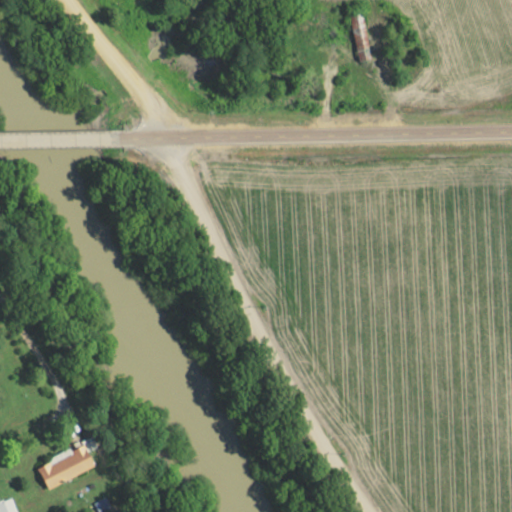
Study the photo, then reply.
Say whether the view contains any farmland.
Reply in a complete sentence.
Yes, there is farmland in the image.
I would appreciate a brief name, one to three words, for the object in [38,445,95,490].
house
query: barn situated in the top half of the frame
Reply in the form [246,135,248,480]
[351,14,372,62]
